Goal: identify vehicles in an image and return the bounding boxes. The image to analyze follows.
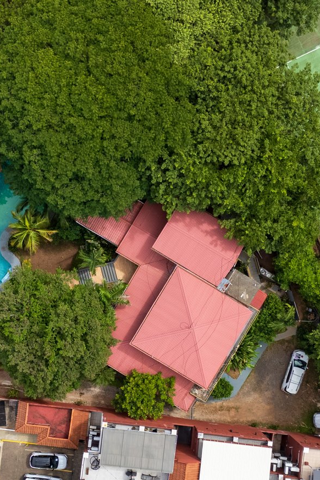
[282,351,310,394]
[28,451,68,474]
[312,412,320,430]
[21,474,61,480]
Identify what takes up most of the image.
trees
